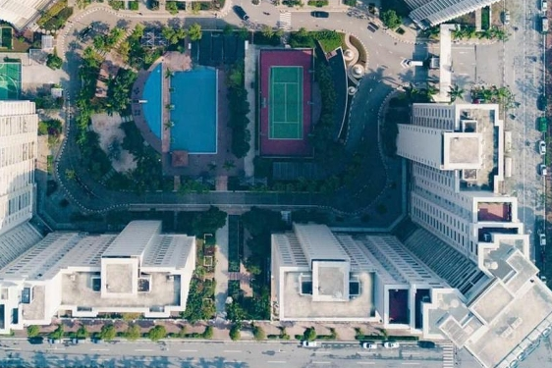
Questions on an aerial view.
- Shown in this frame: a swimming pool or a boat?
swimming pool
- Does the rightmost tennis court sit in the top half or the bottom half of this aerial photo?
top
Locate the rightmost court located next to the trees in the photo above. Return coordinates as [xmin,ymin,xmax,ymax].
[259,47,317,159]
